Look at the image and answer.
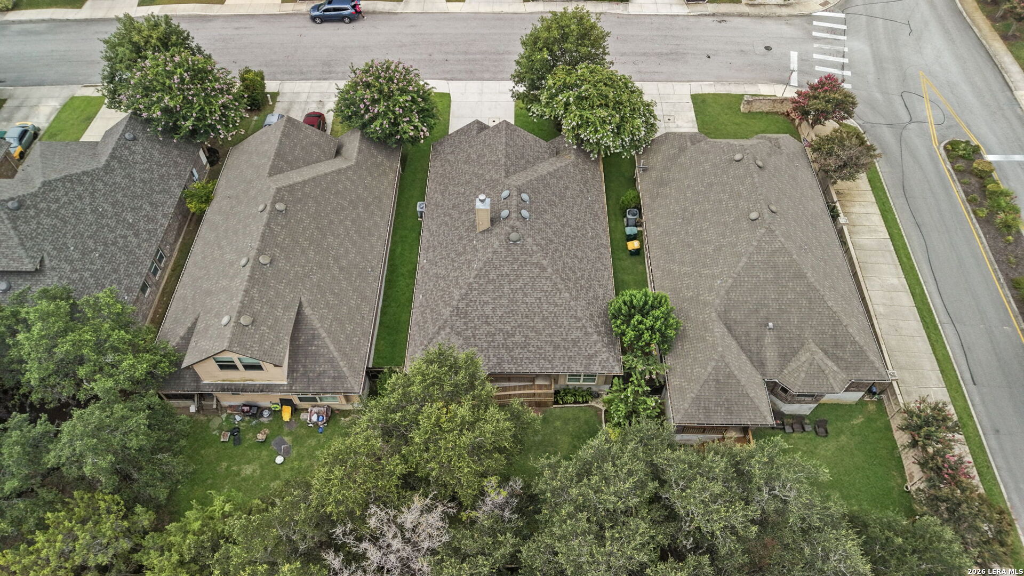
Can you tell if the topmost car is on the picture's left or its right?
left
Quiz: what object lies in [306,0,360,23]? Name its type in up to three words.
car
